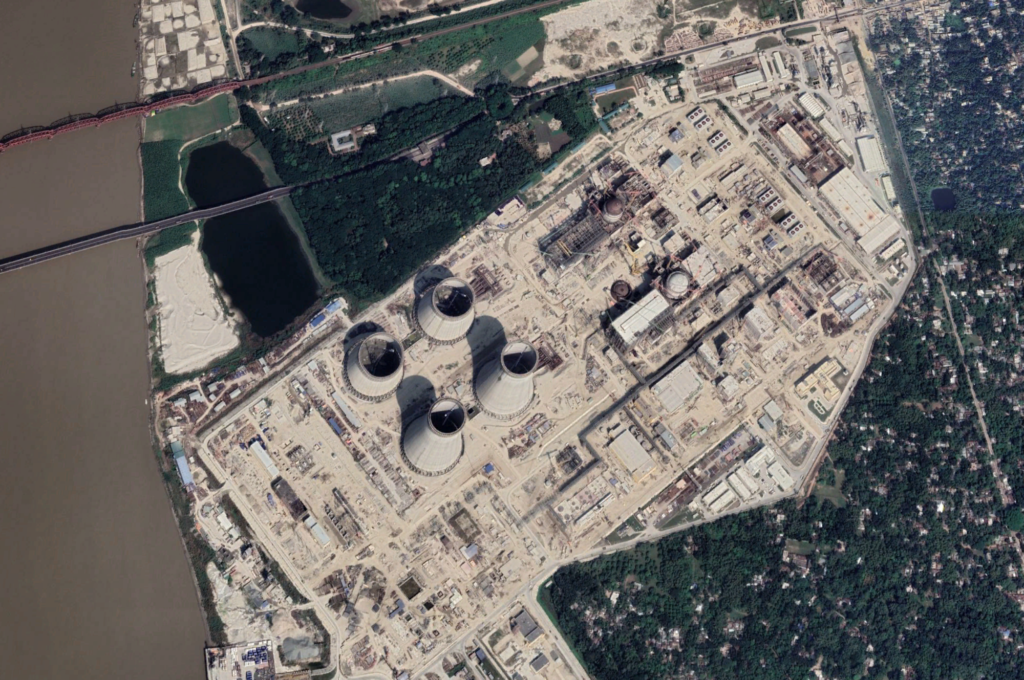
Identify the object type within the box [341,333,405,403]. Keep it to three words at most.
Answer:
cooling tower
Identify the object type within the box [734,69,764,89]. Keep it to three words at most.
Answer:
building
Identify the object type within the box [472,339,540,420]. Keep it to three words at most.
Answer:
cooling tower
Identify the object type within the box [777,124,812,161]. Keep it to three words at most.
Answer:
building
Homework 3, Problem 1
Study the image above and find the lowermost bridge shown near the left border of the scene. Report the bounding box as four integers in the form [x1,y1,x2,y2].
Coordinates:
[0,184,292,272]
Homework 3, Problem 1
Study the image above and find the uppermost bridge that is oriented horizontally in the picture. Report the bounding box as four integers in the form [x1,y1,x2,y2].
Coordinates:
[0,81,242,151]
